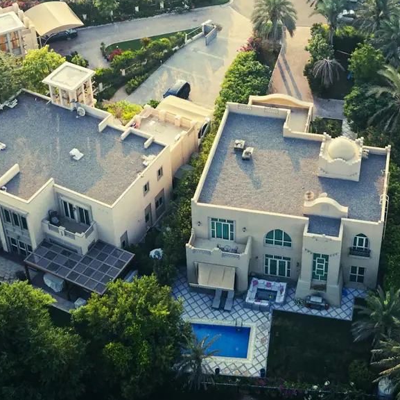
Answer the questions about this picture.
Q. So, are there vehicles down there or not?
Yes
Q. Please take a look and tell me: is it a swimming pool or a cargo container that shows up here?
swimming pool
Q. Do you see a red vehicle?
No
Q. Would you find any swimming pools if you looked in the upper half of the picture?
No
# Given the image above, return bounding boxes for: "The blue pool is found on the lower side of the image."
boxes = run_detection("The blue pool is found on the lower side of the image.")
[180,313,256,364]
